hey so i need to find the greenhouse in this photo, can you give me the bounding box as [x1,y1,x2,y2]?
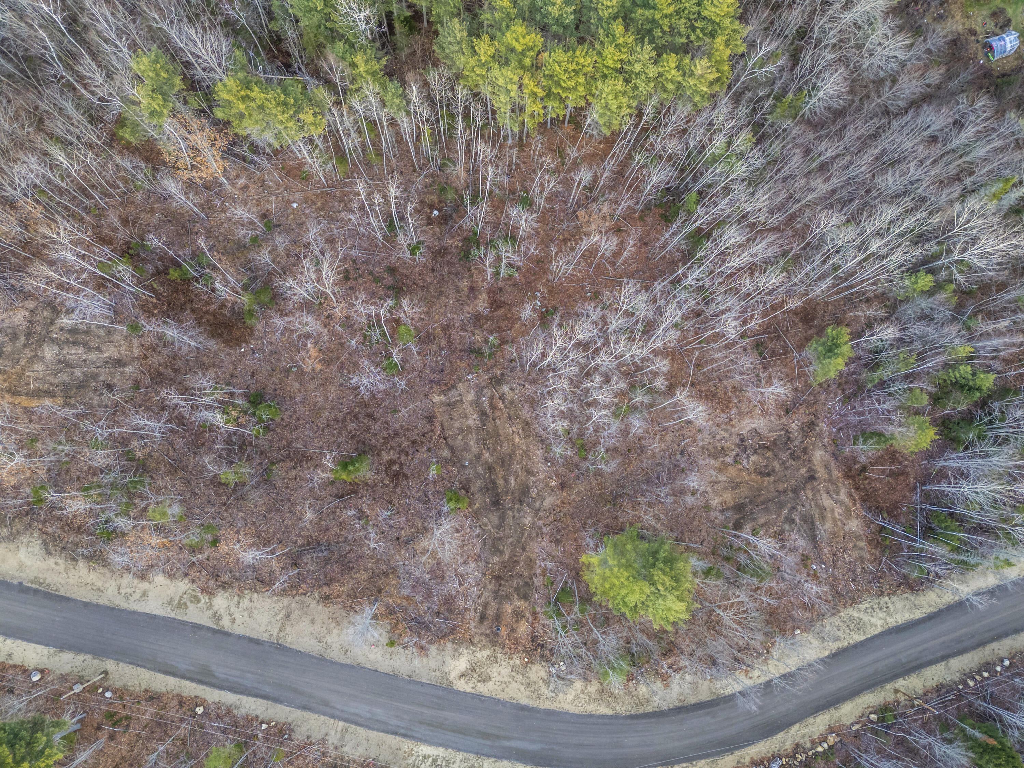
[983,28,1024,61]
